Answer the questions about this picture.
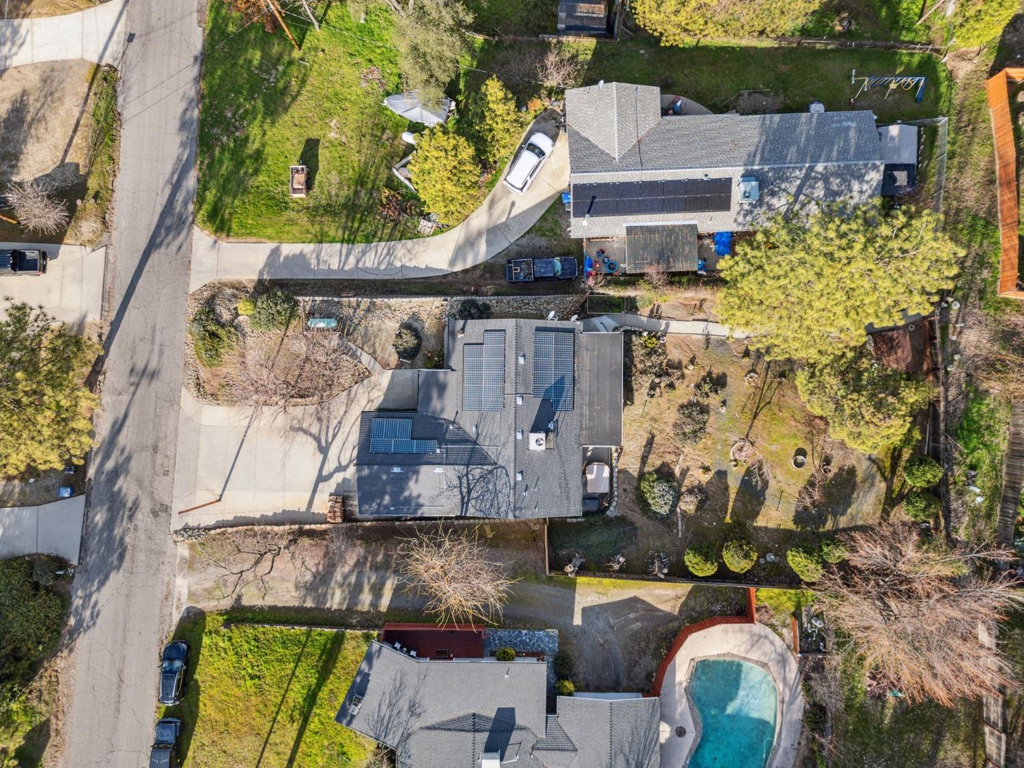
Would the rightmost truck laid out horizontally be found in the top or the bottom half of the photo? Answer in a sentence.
The rightmost truck laid out horizontally sits in the top half of the picture.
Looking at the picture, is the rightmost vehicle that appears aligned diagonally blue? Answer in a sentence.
No, the color of the rightmost vehicle that appears aligned diagonally is white.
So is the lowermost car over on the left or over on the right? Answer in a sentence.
The lowermost car sits on the left side.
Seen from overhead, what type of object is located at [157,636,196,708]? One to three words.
car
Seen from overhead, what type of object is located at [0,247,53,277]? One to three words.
truck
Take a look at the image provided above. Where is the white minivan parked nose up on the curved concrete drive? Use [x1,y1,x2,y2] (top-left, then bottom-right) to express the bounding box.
[501,131,557,198]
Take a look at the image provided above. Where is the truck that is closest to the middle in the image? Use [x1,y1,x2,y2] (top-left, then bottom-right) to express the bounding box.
[505,252,580,285]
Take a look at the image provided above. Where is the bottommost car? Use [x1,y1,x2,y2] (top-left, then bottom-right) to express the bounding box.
[148,715,188,768]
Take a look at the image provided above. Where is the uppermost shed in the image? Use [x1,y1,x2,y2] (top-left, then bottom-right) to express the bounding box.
[558,0,608,35]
